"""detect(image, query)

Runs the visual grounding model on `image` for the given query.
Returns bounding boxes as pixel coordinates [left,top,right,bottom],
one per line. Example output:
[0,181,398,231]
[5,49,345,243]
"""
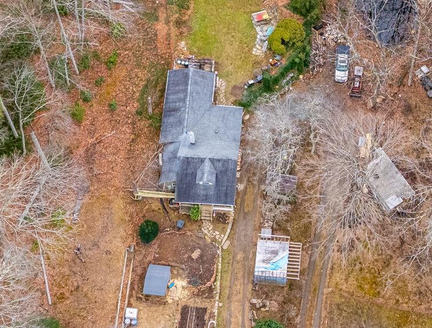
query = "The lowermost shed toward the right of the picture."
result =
[254,233,302,288]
